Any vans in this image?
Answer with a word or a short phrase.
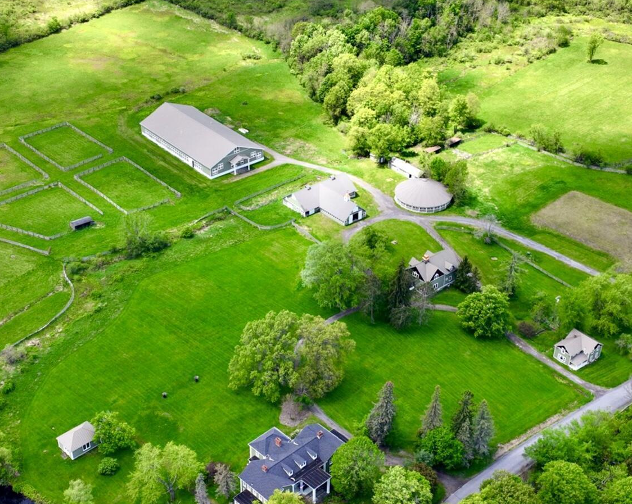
No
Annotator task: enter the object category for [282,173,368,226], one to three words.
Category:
building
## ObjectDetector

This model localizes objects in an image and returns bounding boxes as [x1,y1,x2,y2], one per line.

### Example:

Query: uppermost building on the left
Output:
[136,104,265,179]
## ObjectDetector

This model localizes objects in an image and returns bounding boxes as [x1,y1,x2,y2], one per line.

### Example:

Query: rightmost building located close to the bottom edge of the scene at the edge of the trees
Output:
[229,424,344,504]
